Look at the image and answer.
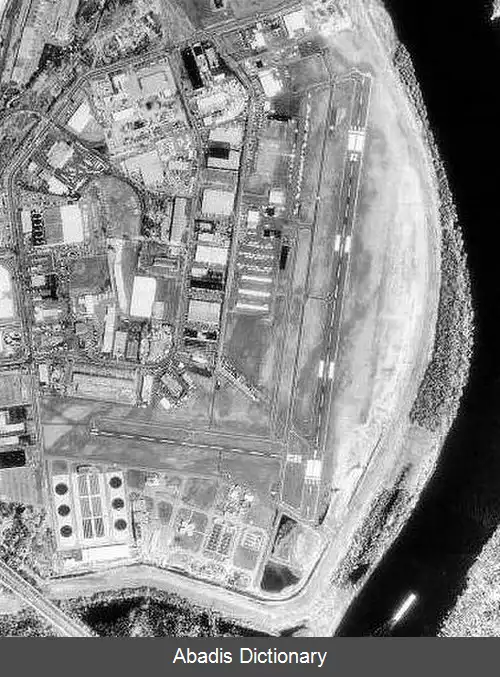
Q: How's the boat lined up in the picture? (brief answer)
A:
on a diagonal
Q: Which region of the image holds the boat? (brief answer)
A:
bottom right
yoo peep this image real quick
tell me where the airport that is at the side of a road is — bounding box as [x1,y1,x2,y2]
[91,56,374,522]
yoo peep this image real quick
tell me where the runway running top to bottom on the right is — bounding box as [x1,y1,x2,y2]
[298,73,374,522]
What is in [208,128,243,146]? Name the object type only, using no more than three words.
hangar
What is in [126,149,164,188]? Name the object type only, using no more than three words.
building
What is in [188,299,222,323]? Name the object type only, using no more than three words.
hangar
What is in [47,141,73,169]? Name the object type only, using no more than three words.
building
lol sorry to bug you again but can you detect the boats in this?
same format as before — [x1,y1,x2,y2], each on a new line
[391,595,413,623]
